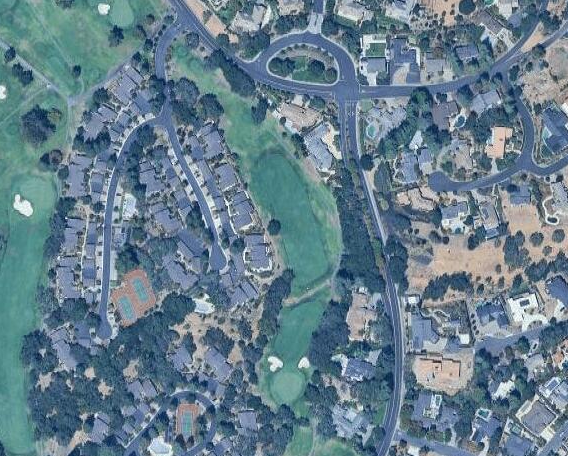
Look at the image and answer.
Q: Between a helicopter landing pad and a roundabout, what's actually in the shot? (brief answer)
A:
roundabout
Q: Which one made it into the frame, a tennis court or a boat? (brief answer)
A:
tennis court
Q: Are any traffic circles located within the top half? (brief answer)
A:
Yes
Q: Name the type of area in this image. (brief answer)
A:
residential area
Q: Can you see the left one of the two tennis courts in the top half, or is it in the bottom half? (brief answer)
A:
bottom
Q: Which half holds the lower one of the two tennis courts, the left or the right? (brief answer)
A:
left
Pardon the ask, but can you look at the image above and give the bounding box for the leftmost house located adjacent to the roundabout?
[230,1,267,34]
